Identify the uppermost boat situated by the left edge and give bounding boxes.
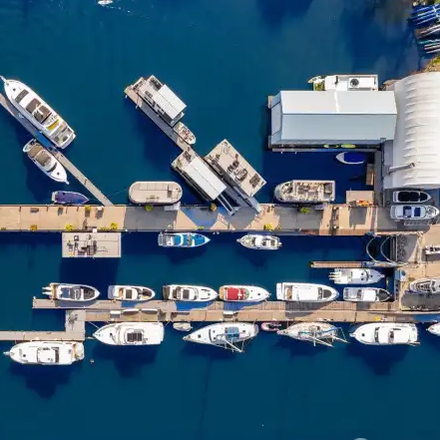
[0,75,79,155]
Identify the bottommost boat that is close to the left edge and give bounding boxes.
[2,339,86,365]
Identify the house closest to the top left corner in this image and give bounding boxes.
[136,75,189,124]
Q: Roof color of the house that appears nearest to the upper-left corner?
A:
white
